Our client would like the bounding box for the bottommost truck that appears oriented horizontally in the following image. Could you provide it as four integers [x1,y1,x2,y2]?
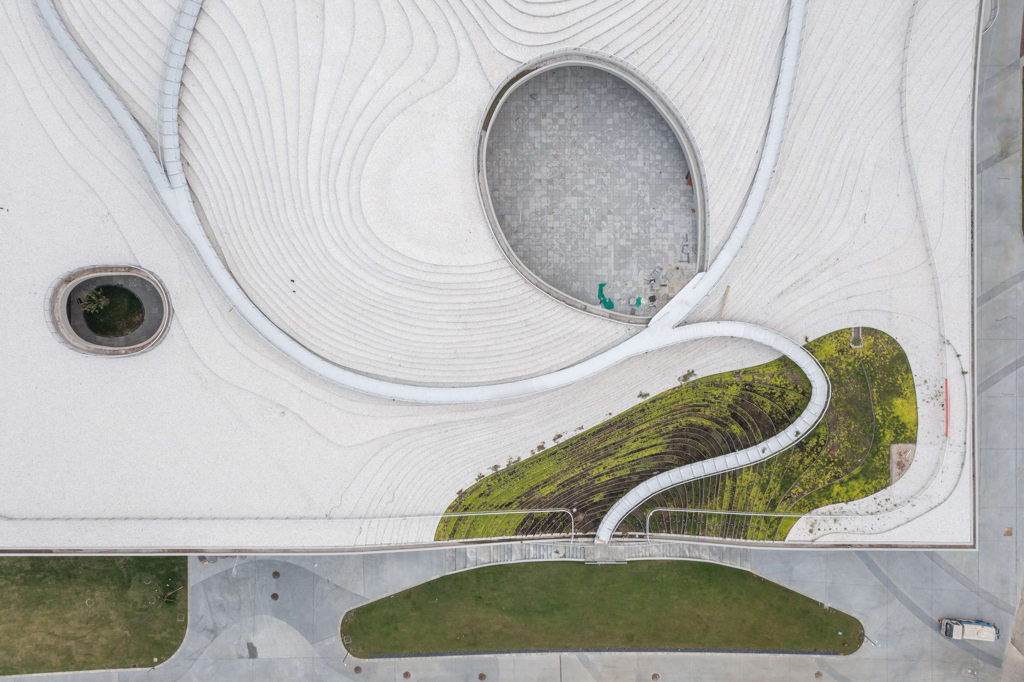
[937,614,999,640]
